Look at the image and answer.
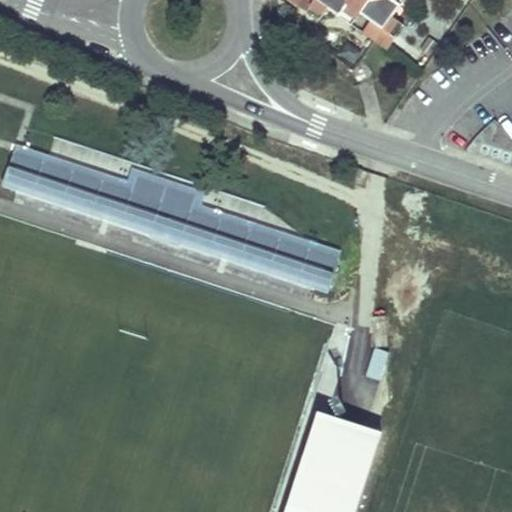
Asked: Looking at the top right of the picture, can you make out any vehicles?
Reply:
Yes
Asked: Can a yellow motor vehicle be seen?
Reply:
No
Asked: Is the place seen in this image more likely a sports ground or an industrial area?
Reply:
sports ground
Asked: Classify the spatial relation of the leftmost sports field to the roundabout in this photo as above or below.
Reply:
below it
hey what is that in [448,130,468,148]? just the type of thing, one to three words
car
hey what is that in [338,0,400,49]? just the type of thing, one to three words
house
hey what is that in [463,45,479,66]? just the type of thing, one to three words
car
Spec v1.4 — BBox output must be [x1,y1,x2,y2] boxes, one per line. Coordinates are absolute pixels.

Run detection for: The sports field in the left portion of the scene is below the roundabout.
[0,216,332,512]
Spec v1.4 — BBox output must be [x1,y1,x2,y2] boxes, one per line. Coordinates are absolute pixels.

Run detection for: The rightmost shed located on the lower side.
[366,348,390,381]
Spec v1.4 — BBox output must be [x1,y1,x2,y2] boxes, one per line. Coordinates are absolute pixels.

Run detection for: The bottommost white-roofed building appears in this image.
[284,412,382,512]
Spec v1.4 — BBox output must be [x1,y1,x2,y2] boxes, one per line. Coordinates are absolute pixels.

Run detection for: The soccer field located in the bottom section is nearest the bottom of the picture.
[396,443,512,512]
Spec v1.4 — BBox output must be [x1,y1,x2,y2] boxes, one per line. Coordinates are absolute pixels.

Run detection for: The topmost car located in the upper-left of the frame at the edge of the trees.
[88,40,112,57]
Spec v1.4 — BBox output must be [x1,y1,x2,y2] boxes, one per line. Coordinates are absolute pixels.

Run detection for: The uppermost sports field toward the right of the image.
[400,310,512,468]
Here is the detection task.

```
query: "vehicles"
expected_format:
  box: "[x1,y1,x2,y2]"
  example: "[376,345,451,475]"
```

[432,70,452,88]
[471,37,488,58]
[414,88,434,106]
[448,130,468,148]
[463,45,479,66]
[474,104,492,124]
[500,117,512,142]
[494,22,512,44]
[372,308,387,316]
[443,66,463,83]
[88,40,112,57]
[481,33,498,54]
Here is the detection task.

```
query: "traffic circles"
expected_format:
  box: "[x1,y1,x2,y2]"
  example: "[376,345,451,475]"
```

[111,0,253,86]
